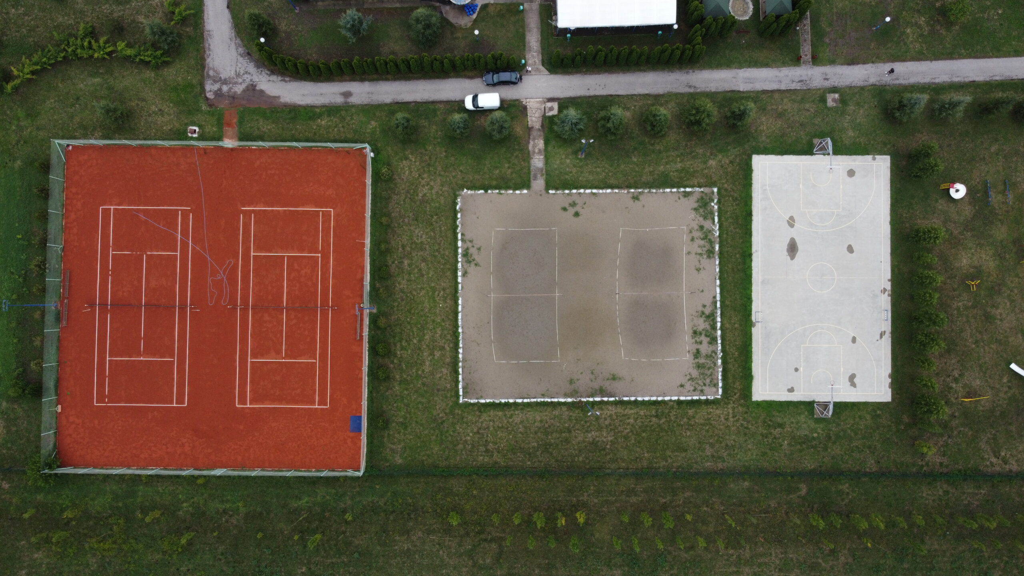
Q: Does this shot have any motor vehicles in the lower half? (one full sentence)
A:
No, I can find no motor vehicle in the lower half.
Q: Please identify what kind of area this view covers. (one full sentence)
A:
This image shows a sports ground.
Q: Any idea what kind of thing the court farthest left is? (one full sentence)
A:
From above, the court farthest left can be identified as a tennis court.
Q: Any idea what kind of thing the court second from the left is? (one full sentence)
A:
I'd say the court second from the left is a tennis court.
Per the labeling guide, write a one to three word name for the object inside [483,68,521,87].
car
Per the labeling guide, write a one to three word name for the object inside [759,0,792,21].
gazebo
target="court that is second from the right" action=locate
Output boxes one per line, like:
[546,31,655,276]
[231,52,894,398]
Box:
[588,190,719,399]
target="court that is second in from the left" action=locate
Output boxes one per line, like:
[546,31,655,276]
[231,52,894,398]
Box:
[212,148,368,469]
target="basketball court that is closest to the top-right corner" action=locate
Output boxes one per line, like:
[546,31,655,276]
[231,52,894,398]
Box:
[752,155,892,401]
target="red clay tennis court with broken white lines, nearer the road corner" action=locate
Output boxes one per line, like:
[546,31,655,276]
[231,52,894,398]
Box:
[58,145,214,468]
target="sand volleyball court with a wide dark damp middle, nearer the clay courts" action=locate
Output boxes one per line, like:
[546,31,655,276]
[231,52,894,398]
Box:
[461,192,589,400]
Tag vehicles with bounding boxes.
[483,68,521,87]
[465,92,502,111]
